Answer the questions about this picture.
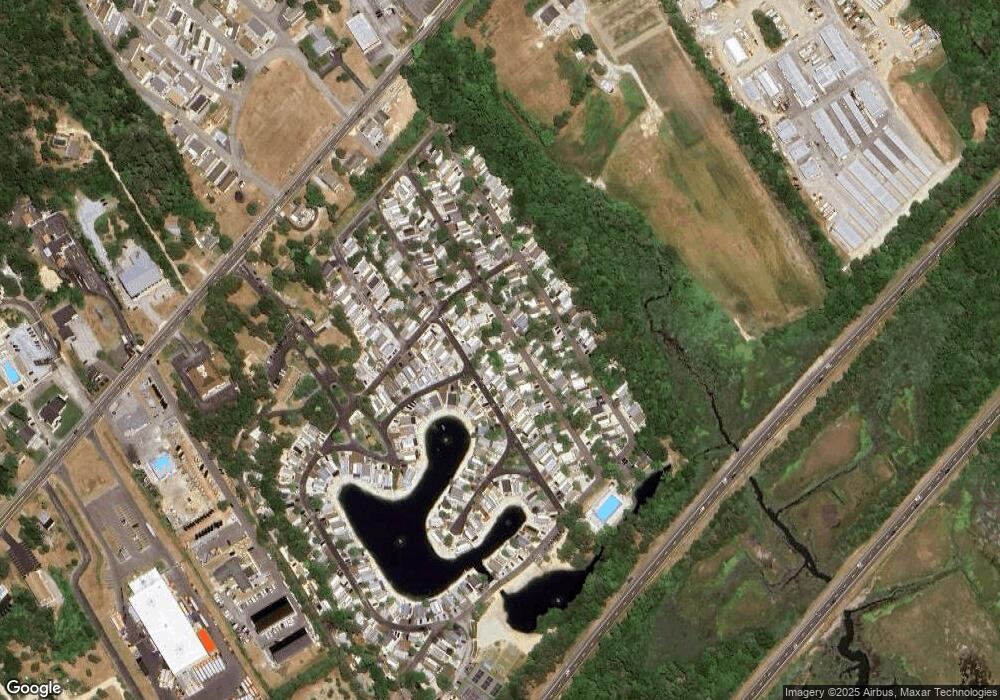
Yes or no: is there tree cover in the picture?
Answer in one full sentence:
Yes, the picture does contain tree cover.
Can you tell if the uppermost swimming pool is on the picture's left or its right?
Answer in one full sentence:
The uppermost swimming pool is on the left side of the image.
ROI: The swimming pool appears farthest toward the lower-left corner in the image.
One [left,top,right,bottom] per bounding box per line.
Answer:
[147,451,175,480]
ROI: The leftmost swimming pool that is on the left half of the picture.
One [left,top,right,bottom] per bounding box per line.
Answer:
[0,350,22,388]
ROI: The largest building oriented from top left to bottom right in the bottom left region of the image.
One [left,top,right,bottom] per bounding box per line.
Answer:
[129,560,208,664]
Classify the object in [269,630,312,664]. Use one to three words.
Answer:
shed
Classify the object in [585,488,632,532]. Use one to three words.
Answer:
swimming pool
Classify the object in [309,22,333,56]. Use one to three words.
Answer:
house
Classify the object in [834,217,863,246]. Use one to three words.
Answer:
building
